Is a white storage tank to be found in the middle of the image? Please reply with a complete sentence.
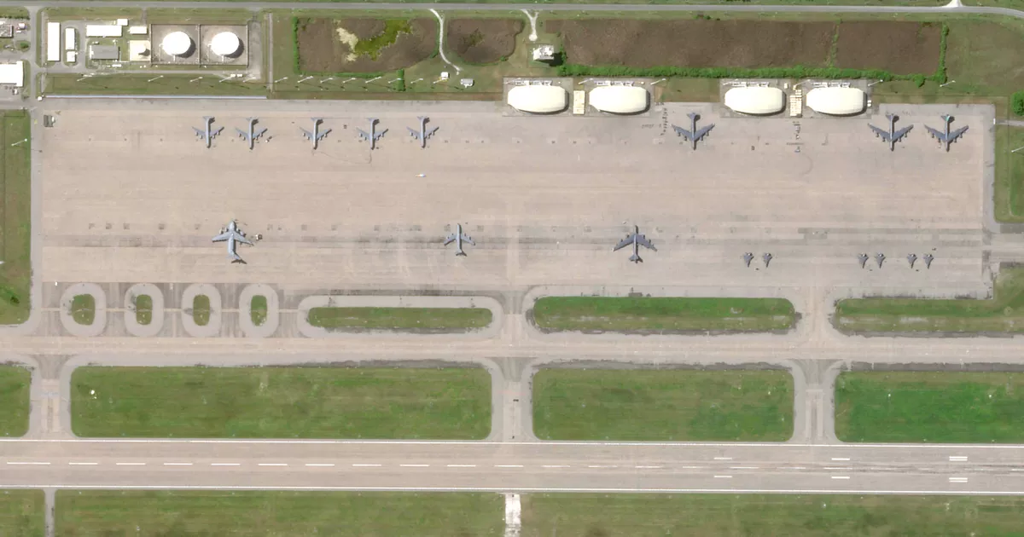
No, the scene shows no white storage tank in the middle of the image.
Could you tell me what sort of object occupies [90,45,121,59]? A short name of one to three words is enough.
building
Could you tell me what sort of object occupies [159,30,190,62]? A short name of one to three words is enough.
storage tank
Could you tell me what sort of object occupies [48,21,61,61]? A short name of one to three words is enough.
building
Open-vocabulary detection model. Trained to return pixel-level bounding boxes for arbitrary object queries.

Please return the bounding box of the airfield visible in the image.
[0,100,1024,496]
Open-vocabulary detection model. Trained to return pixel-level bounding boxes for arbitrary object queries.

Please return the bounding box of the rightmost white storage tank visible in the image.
[207,30,239,62]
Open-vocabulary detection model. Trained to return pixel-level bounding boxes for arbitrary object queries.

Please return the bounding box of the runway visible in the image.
[0,436,1024,496]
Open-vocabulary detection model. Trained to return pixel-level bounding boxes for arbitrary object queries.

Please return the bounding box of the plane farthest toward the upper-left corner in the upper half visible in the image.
[193,116,224,148]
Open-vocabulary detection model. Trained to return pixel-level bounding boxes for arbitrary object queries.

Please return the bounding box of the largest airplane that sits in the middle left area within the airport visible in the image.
[214,222,253,261]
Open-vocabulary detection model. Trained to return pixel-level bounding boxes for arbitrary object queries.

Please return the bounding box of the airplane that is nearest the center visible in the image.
[444,223,475,256]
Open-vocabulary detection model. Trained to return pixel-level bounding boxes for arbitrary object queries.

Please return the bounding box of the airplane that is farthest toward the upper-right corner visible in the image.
[926,114,969,152]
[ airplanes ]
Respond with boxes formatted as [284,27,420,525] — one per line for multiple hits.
[926,114,969,152]
[214,222,253,261]
[858,254,868,267]
[357,117,388,149]
[193,116,224,148]
[236,117,267,149]
[614,226,658,263]
[870,113,914,151]
[300,117,331,149]
[762,252,772,267]
[907,254,917,269]
[875,254,885,267]
[444,223,475,256]
[672,112,716,150]
[407,115,438,148]
[743,253,753,266]
[923,254,934,269]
